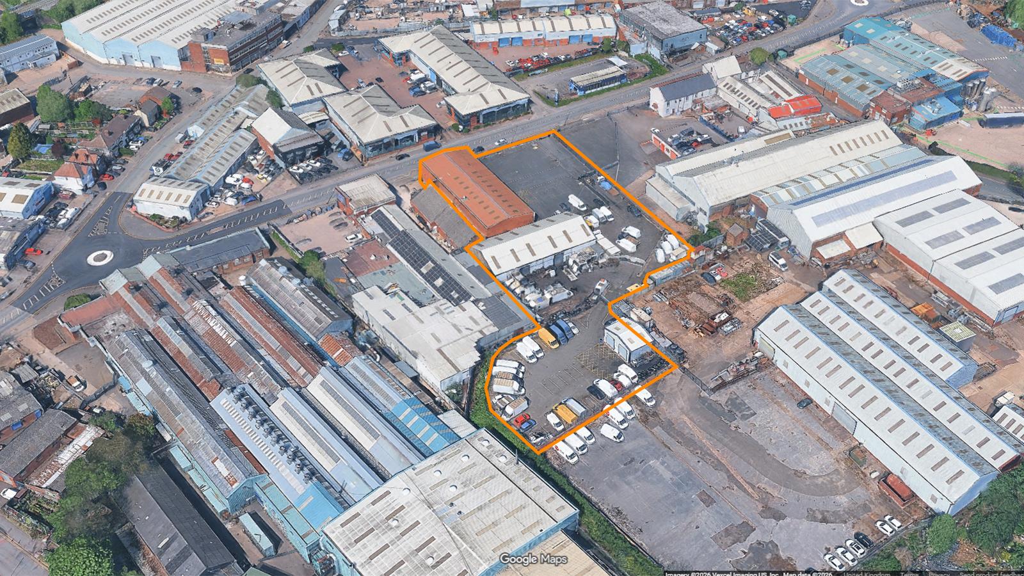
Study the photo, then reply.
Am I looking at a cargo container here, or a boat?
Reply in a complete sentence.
Of the two, only a cargo container appears.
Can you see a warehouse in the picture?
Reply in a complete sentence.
Yes, there's a warehouse here.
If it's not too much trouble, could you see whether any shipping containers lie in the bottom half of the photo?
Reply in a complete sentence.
Yes, a shipping container appears in the bottom half of the photo.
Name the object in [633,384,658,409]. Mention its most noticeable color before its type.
white vehicle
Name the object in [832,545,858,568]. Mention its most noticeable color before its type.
white car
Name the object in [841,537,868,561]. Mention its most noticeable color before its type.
white car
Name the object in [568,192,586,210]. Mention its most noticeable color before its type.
white vehicle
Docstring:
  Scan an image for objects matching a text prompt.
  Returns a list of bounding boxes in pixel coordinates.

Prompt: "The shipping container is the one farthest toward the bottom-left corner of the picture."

[239,513,276,561]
